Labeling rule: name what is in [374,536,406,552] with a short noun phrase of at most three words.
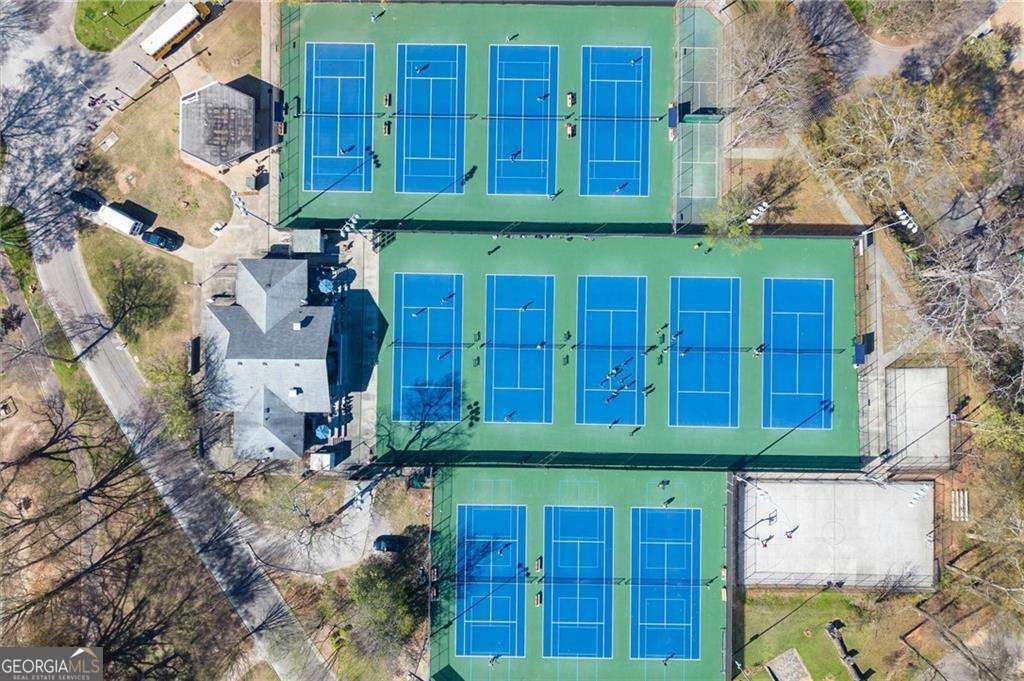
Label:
car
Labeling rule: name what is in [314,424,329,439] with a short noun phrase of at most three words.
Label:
umbrella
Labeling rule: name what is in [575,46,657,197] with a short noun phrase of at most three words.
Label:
tennis court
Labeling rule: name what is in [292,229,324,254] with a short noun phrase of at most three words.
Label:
shed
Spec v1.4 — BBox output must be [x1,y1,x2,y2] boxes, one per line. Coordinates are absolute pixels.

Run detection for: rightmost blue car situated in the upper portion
[143,229,178,250]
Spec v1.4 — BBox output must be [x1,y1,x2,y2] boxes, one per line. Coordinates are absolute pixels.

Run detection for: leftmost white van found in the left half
[94,204,142,234]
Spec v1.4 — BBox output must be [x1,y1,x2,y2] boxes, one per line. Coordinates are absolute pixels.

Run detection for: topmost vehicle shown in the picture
[141,2,210,64]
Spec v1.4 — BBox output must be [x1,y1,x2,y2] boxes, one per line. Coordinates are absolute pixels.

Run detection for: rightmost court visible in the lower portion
[887,366,951,471]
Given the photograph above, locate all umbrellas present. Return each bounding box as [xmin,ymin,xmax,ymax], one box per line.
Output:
[318,278,332,293]
[314,424,329,439]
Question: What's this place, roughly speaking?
sports ground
